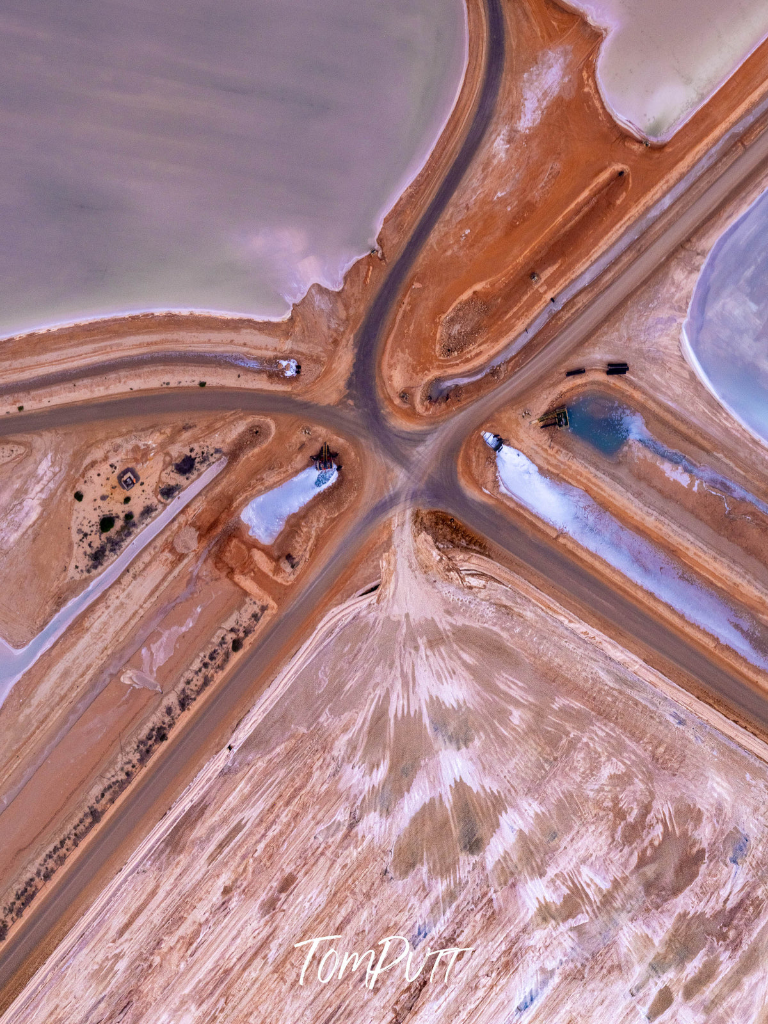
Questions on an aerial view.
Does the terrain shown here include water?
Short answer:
Yes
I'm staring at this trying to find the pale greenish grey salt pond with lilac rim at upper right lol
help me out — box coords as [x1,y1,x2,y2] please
[557,0,768,144]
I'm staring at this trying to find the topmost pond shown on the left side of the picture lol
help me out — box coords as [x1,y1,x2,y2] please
[0,0,468,342]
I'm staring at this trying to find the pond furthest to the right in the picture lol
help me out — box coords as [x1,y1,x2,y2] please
[682,191,768,442]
